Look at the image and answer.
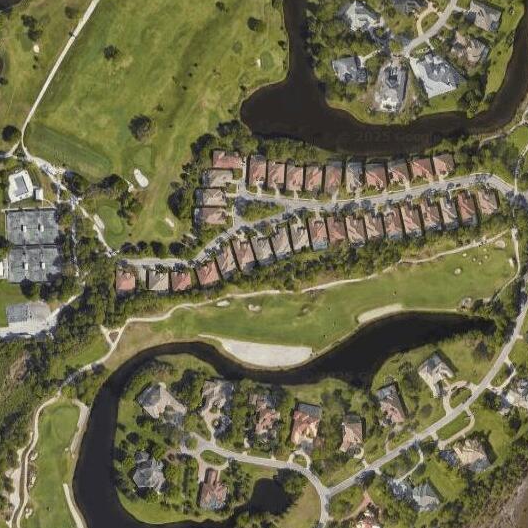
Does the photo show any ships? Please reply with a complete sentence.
No, the frame has no ship in it.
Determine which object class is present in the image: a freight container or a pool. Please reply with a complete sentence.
Looking from above, you can make out a pool.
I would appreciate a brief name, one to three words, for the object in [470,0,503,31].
house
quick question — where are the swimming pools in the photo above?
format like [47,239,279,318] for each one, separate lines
[9,171,33,203]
